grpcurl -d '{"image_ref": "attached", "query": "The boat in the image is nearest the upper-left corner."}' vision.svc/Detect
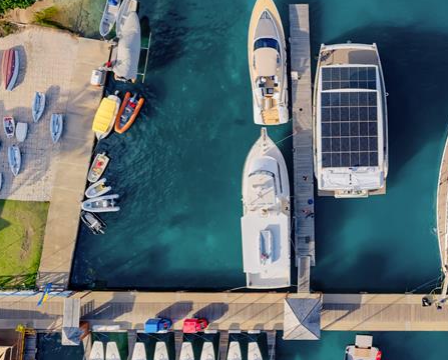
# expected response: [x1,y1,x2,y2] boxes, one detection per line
[0,48,16,91]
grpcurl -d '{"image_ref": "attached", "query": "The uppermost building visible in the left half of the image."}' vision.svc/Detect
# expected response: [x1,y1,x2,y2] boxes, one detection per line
[62,319,91,344]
